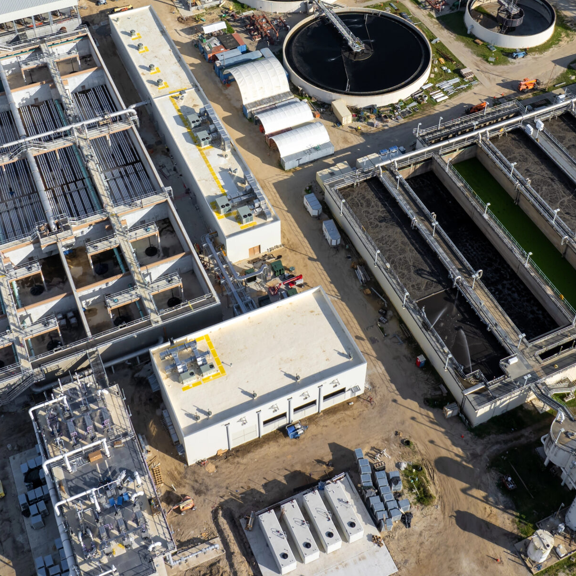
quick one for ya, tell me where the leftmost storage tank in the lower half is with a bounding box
[259,509,297,576]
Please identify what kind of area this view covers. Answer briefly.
industrial area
